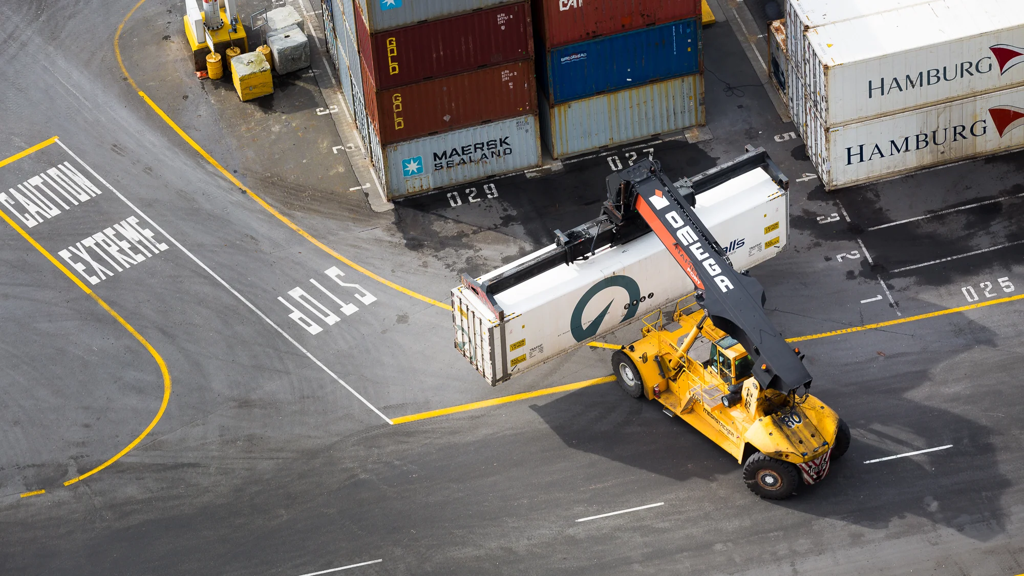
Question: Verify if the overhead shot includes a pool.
No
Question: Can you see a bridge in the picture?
No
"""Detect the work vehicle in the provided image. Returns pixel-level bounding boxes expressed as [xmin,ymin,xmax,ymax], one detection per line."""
[462,145,852,500]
